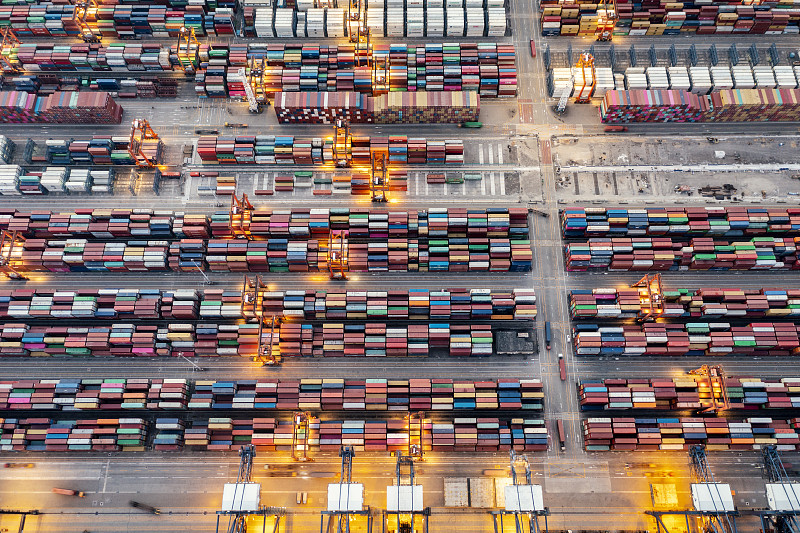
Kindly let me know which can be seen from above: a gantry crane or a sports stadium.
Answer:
gantry crane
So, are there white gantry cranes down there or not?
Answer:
Yes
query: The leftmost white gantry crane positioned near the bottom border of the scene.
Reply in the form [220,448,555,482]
[216,449,290,533]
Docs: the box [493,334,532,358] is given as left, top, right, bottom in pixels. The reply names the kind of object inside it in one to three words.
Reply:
building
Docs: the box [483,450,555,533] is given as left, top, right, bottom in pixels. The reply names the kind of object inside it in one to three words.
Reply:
container crane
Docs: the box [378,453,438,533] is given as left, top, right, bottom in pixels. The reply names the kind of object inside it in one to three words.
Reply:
container crane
